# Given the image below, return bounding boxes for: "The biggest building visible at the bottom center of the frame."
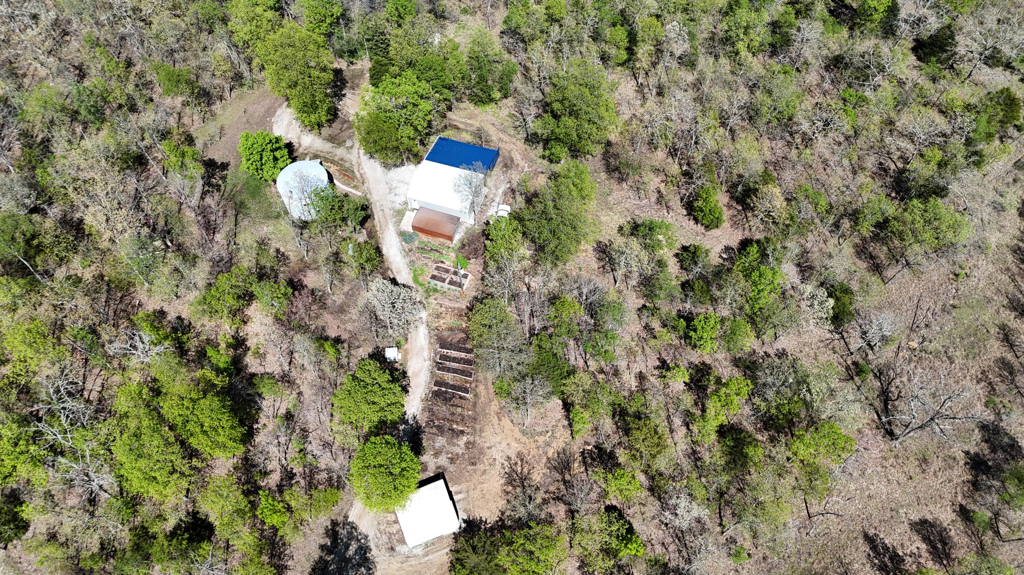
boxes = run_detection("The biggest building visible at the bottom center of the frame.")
[397,479,460,549]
